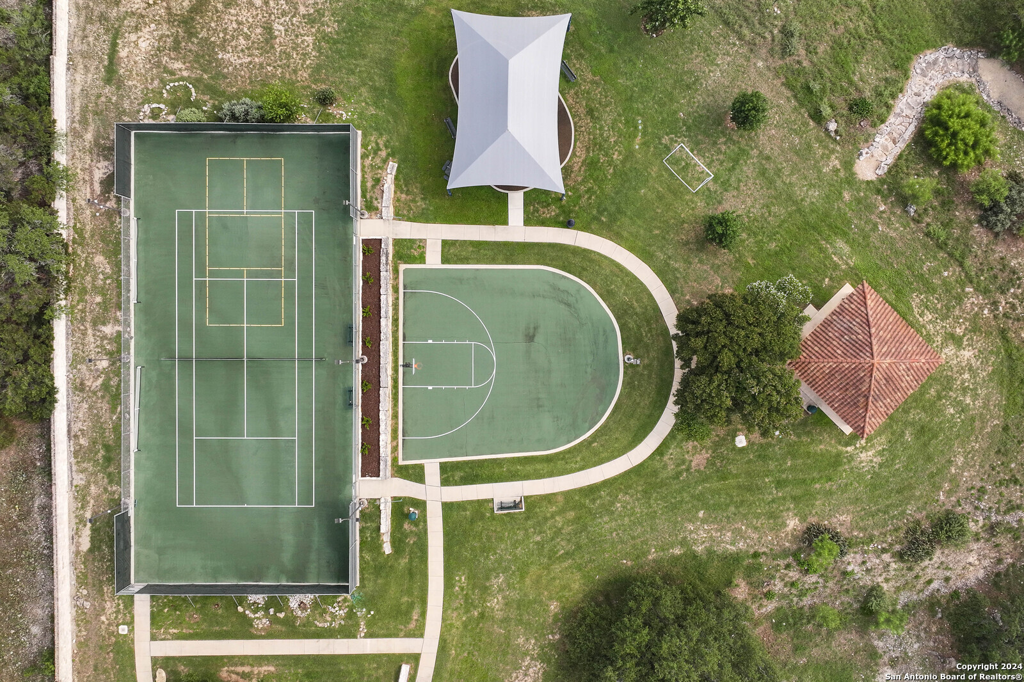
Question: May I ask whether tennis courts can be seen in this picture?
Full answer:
Yes, you can see a tennis court in this photo.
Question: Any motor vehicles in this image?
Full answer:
No, the frame has no motor vehicle in it.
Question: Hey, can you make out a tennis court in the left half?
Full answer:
Yes, looking in the left half, one can make out a tennis court.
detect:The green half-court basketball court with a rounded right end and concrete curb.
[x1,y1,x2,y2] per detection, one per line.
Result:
[400,265,623,465]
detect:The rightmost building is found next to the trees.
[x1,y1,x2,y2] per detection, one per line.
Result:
[779,281,944,439]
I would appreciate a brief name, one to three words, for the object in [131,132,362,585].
tennis court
